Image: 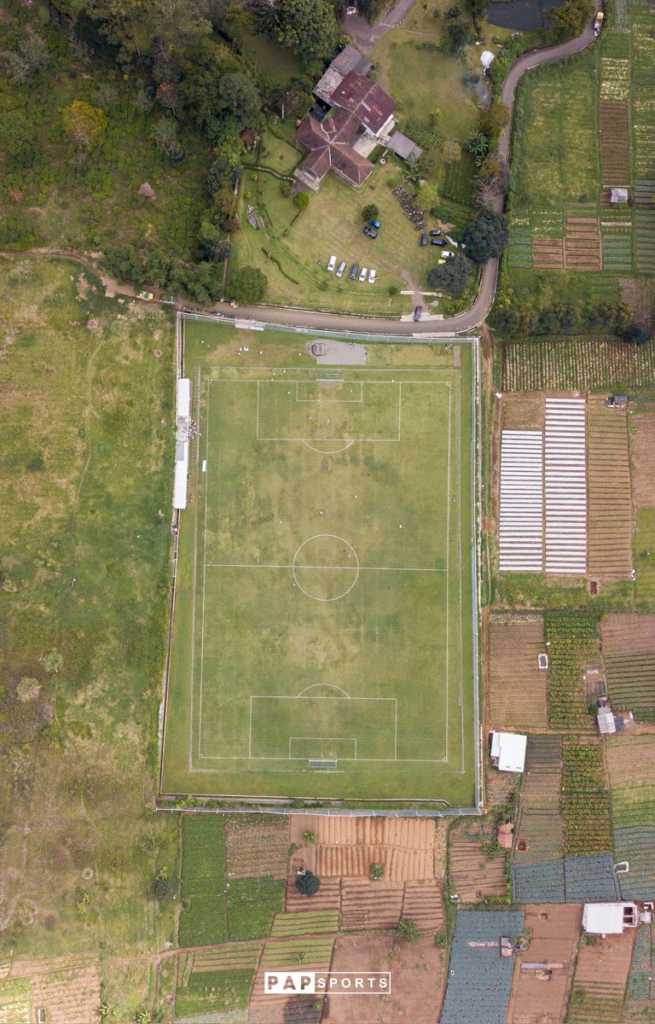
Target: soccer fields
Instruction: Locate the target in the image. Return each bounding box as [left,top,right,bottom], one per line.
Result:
[164,319,475,806]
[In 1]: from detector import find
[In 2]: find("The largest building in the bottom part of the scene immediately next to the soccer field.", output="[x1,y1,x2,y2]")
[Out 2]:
[489,733,528,773]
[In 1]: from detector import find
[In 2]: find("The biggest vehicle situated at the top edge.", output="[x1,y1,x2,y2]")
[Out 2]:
[593,11,605,30]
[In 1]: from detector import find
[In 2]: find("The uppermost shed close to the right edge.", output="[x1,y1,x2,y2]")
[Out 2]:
[608,188,628,206]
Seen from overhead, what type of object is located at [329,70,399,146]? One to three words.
building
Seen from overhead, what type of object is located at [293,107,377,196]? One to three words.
house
